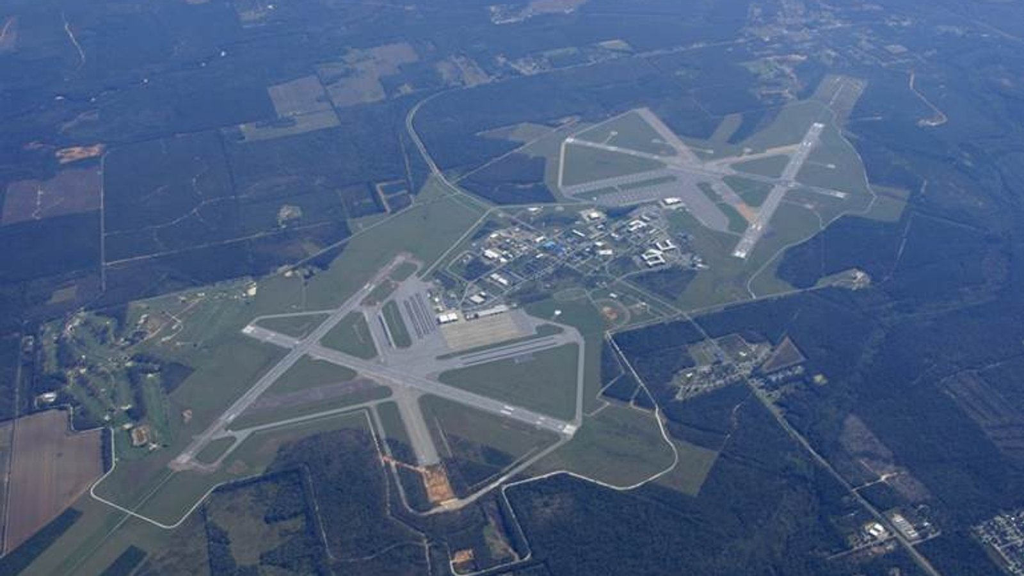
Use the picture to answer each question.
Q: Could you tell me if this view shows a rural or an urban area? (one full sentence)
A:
From above, the setting appears rural.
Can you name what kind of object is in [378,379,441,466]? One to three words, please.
runway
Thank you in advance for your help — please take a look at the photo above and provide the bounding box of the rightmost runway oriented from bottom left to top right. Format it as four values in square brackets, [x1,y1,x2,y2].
[731,124,825,259]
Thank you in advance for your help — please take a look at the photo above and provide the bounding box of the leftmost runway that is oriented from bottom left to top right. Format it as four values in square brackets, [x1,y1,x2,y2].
[176,257,413,460]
